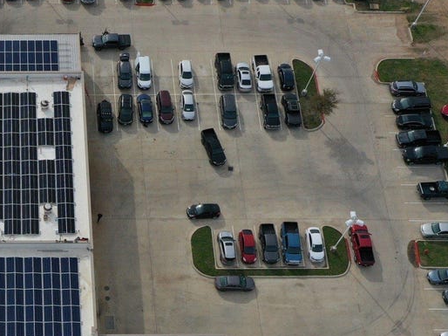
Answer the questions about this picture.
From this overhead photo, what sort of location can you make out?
parking lot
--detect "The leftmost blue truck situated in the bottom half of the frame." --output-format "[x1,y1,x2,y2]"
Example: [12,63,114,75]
[279,221,304,266]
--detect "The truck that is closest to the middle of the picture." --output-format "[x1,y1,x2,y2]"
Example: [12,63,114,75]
[198,126,226,169]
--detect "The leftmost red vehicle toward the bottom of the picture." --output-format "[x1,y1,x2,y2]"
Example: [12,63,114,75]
[238,230,258,262]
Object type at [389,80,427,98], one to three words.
car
